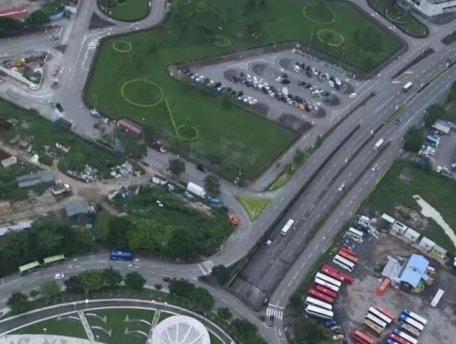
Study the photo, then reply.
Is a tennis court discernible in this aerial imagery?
No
